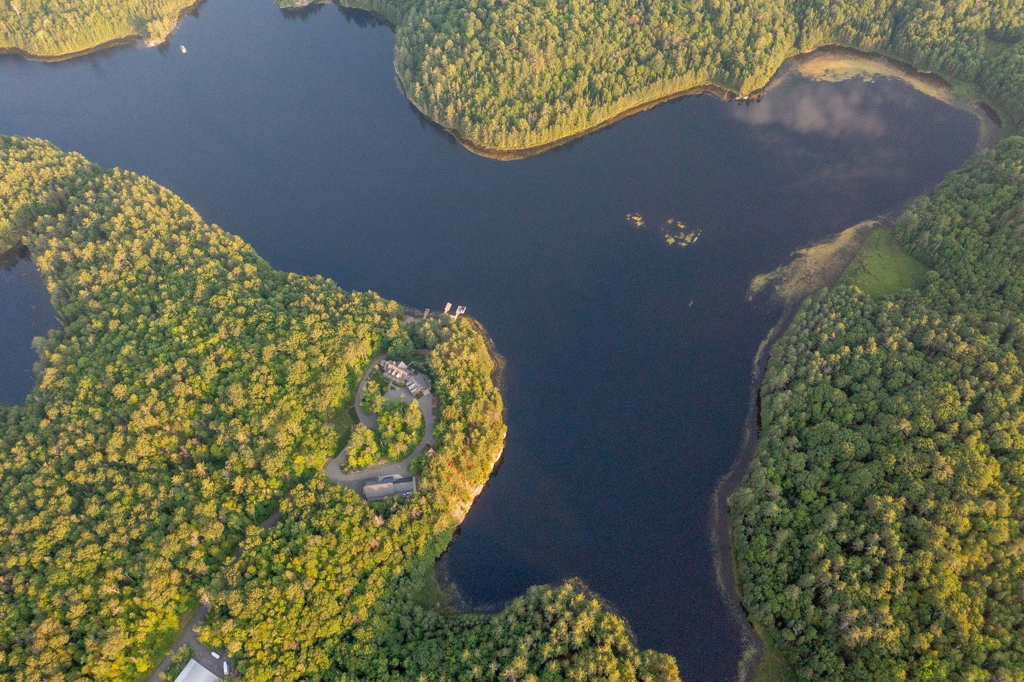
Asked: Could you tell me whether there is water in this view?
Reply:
Yes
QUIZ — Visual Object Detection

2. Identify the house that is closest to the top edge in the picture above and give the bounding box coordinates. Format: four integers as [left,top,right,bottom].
[378,362,430,400]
